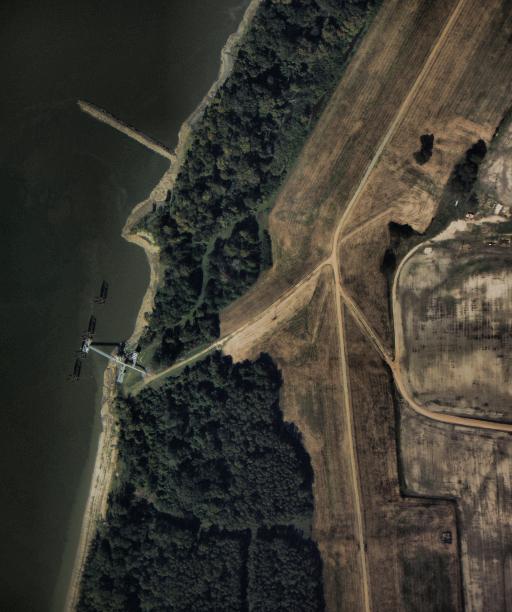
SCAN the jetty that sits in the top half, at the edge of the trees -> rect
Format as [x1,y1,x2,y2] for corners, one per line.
[75,98,180,161]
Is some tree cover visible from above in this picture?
Yes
